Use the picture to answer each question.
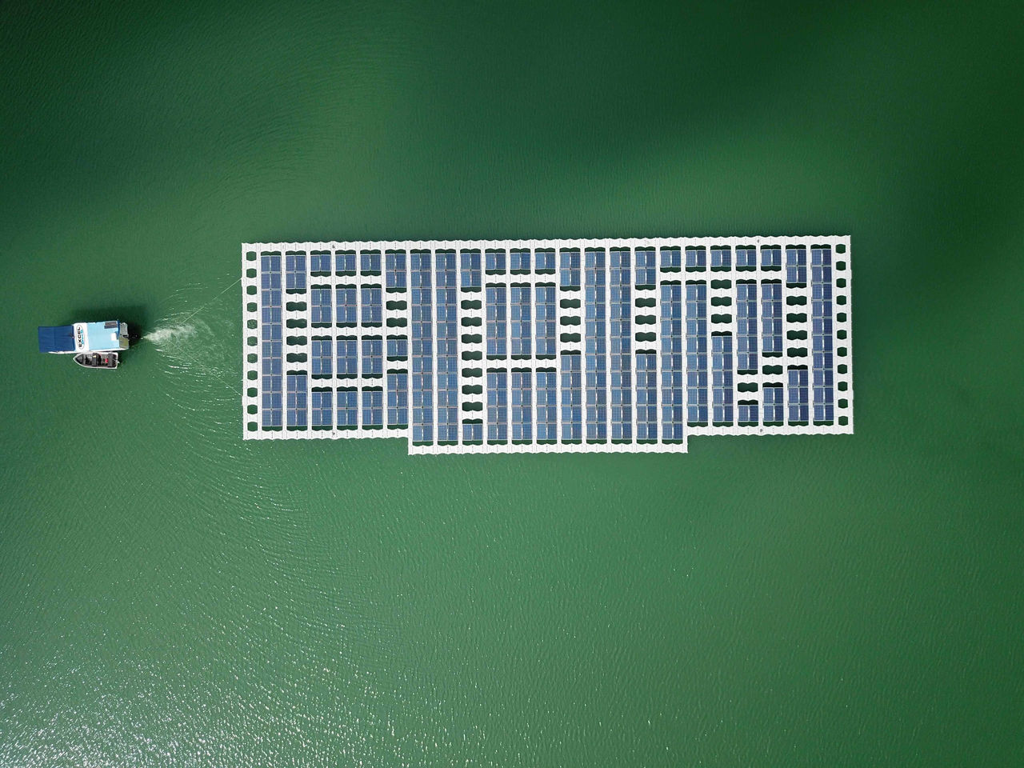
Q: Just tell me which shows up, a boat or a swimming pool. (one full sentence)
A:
Of the two, only a boat appears.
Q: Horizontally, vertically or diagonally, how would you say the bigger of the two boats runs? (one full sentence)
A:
What the image shows is the bigger of the two boats lying horizontally.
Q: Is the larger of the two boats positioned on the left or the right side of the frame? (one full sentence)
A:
The larger of the two boats appears in the left half of the scene.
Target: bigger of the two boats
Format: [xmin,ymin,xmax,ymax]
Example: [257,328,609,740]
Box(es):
[38,318,144,353]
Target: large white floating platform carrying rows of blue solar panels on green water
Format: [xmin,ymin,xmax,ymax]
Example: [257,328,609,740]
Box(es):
[241,235,853,455]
